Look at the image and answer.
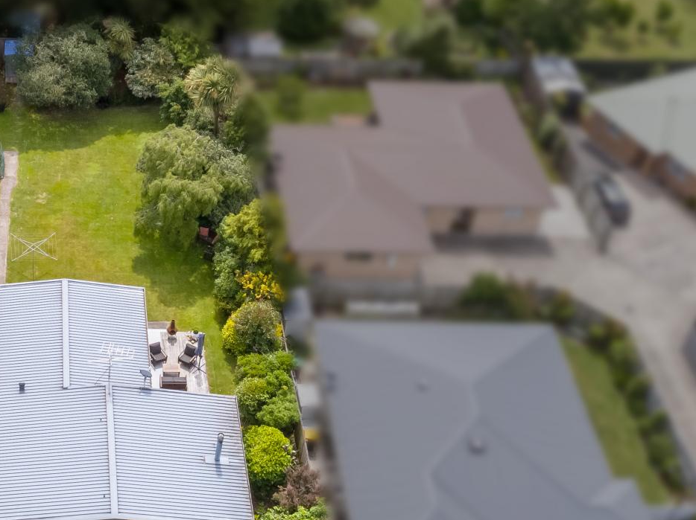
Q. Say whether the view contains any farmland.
No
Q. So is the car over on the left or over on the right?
right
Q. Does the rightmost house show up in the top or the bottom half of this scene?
top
